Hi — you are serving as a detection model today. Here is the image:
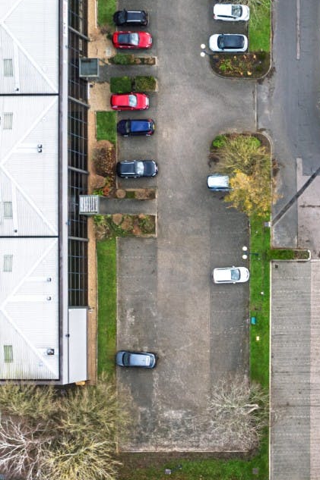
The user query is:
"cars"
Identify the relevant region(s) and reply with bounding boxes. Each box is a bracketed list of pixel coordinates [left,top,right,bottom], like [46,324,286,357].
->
[119,118,157,136]
[112,30,153,49]
[213,267,250,283]
[117,159,159,178]
[113,8,149,27]
[209,173,237,190]
[212,4,250,21]
[118,350,159,368]
[210,32,249,51]
[111,91,151,110]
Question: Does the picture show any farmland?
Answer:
No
